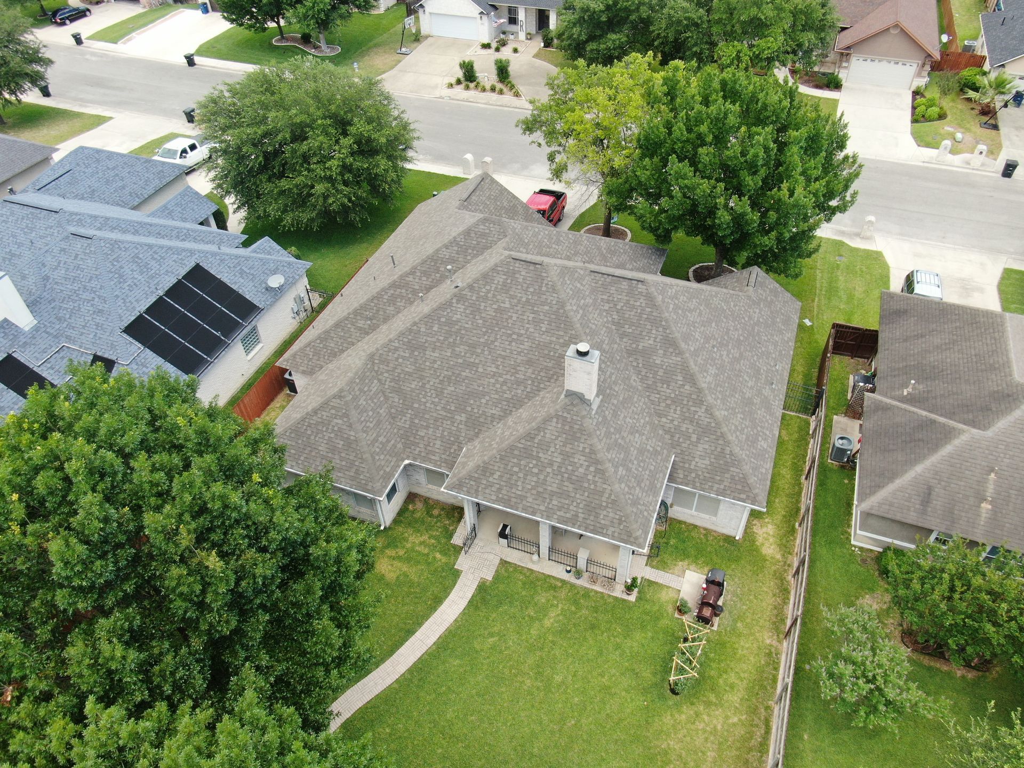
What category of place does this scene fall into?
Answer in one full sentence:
This looks like a residential area.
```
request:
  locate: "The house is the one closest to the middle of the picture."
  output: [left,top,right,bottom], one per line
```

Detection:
[244,168,801,594]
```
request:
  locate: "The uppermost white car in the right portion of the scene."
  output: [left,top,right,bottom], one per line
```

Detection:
[897,266,944,302]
